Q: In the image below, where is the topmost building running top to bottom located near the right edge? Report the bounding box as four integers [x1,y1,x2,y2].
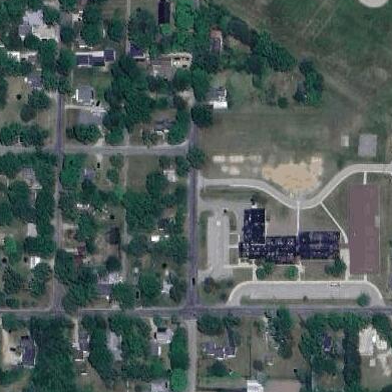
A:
[349,186,383,275]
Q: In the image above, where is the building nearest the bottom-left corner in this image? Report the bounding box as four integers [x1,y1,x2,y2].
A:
[22,336,36,369]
